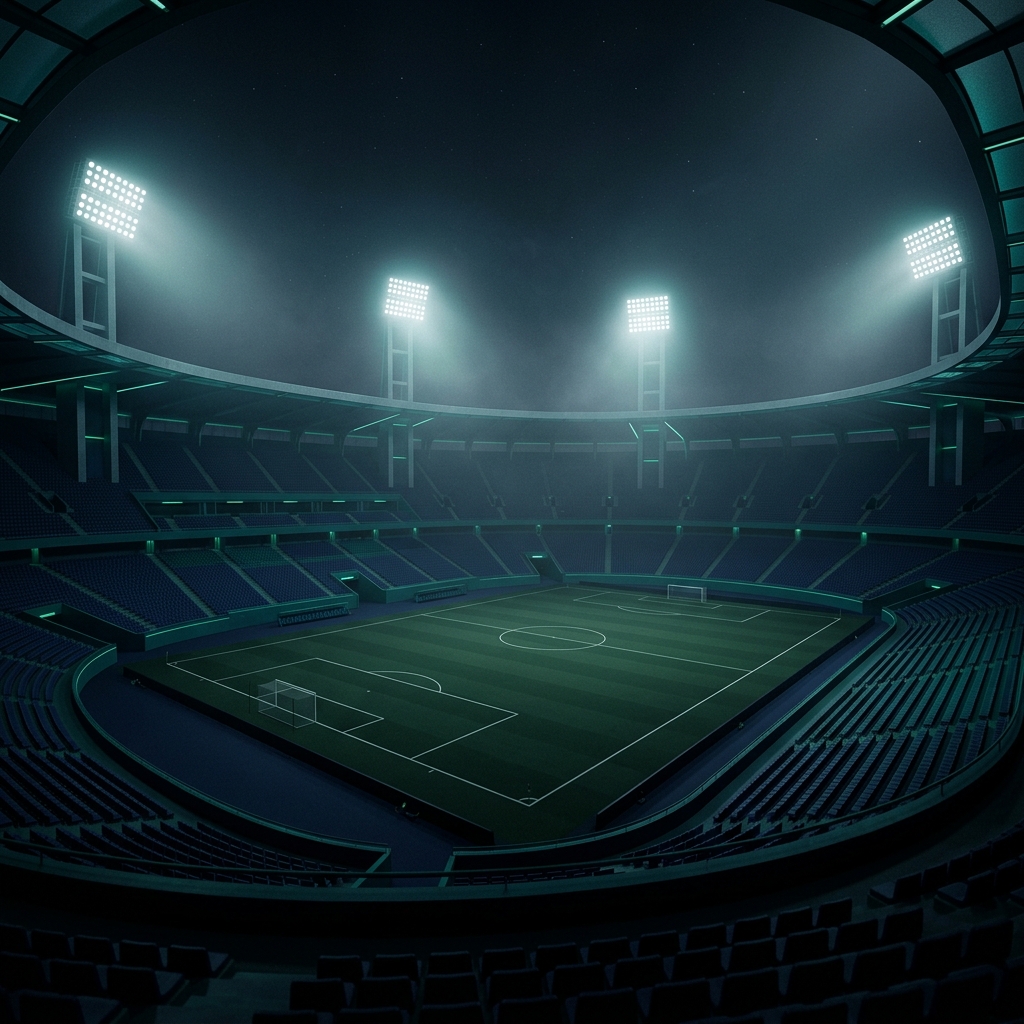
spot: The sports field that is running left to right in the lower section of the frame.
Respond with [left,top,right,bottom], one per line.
[111,584,872,844]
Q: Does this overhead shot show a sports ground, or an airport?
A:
sports ground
